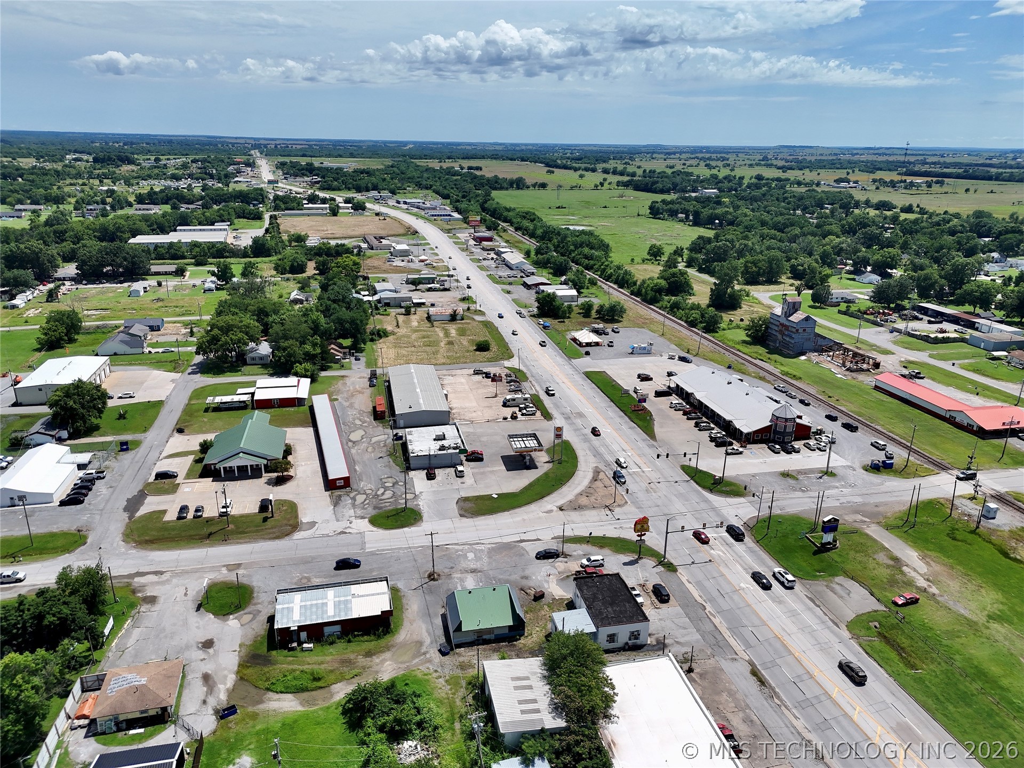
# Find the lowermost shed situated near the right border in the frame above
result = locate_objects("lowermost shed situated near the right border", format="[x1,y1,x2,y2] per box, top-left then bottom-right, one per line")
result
[979,503,1005,522]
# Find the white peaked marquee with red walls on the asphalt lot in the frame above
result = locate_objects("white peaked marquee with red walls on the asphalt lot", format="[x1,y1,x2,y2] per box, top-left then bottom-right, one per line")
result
[574,328,603,347]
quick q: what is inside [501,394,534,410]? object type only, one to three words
camper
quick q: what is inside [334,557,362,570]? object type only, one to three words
vehicle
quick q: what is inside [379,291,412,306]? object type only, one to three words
building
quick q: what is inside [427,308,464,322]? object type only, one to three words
shed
